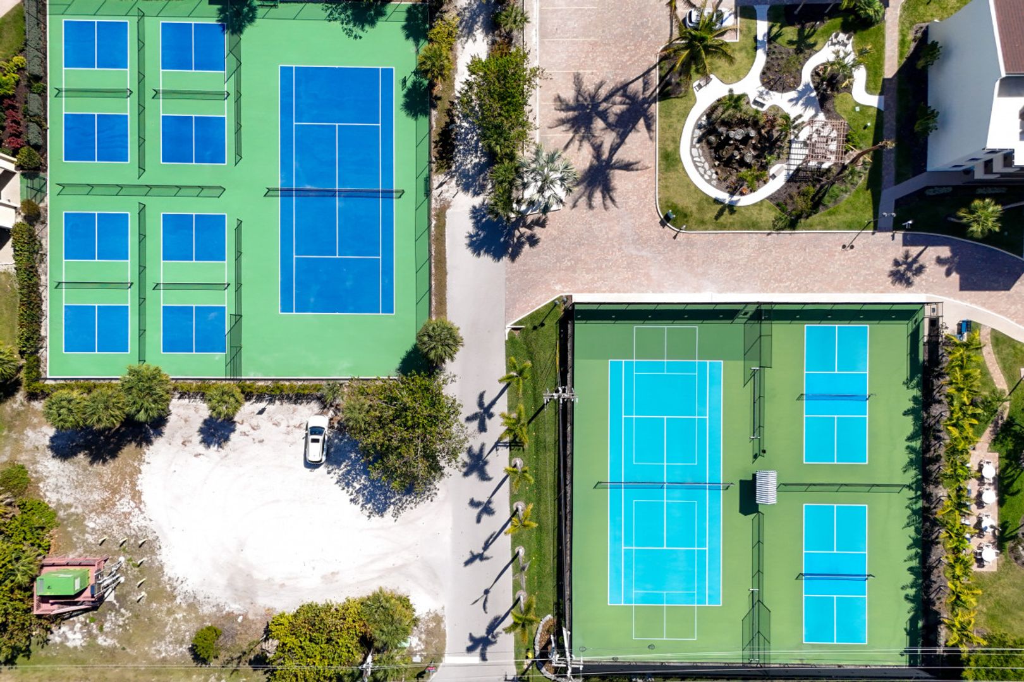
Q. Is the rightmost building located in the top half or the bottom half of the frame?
top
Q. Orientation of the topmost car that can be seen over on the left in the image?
up and down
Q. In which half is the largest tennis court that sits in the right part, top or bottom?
bottom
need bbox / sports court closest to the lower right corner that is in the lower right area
[803,505,867,645]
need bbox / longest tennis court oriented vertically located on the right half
[608,360,723,607]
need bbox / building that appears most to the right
[926,0,1024,186]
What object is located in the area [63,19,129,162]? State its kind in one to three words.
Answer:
sports court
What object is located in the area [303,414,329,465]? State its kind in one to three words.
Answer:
car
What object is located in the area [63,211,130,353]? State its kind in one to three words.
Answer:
sports court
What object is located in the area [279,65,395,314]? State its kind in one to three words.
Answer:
tennis court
